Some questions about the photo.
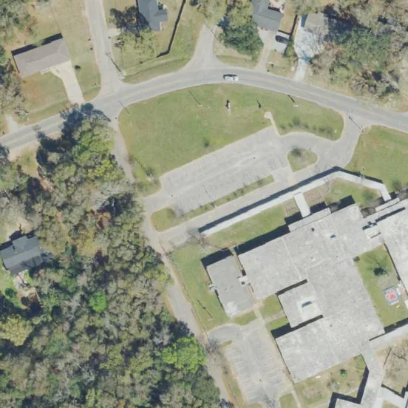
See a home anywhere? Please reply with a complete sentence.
Yes, the photo shows a home.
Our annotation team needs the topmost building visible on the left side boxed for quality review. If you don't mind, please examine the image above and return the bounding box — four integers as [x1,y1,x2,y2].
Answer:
[138,0,166,30]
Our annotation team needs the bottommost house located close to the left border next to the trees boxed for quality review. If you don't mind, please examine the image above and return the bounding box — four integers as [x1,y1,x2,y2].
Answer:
[0,236,44,275]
